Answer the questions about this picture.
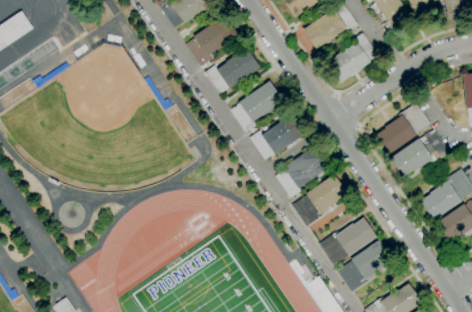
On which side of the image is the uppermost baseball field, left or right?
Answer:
left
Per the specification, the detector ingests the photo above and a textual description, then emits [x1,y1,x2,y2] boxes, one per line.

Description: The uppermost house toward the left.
[166,0,208,28]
